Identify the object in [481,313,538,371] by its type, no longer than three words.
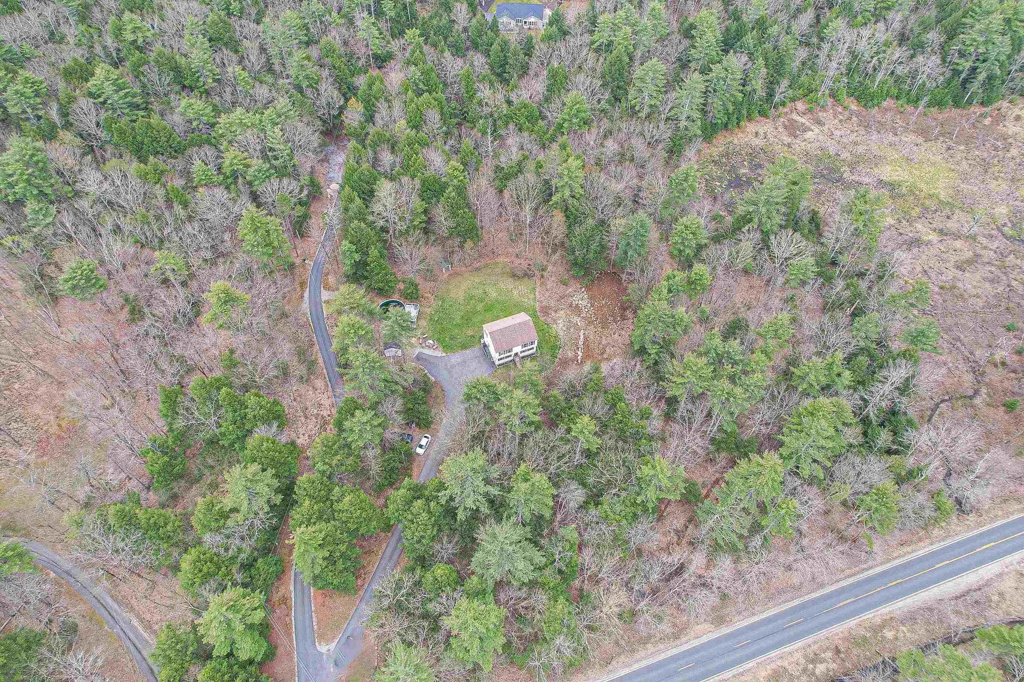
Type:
house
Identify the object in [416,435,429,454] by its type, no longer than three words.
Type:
vehicle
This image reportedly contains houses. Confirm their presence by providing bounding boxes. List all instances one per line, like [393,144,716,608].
[497,4,545,35]
[481,313,538,371]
